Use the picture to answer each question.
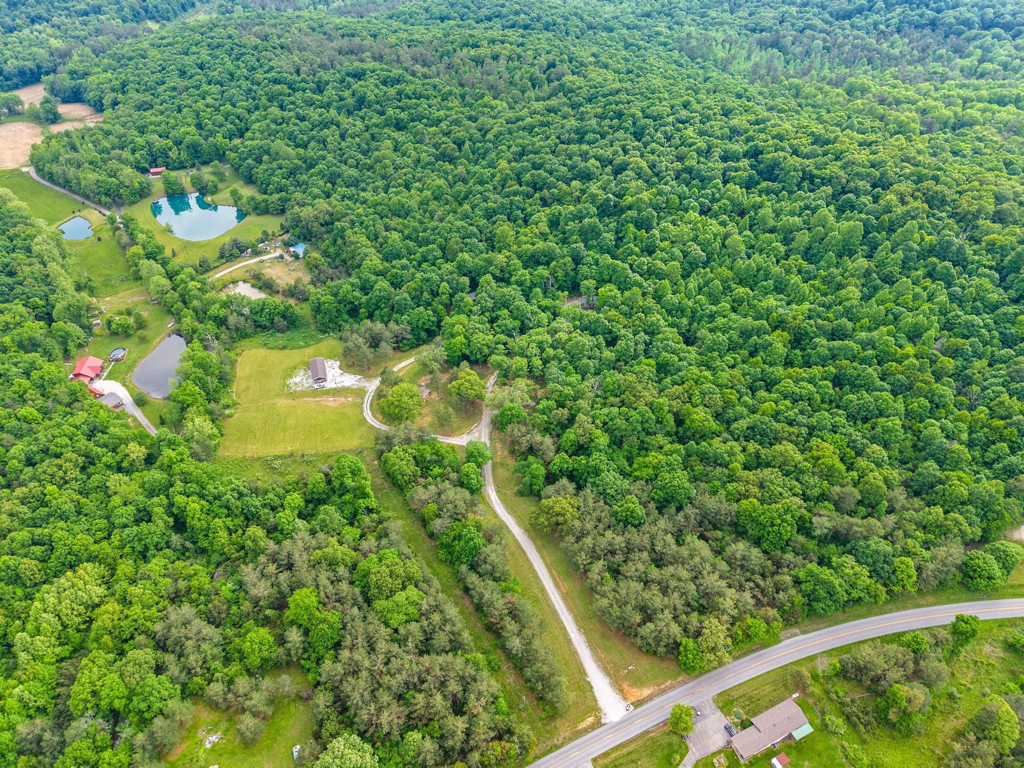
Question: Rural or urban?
rural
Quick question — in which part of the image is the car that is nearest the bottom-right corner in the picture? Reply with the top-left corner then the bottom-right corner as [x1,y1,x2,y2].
[722,718,738,736]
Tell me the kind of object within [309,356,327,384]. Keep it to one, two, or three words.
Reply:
barn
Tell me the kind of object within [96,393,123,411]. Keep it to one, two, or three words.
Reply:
building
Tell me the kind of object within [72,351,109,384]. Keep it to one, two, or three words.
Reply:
house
